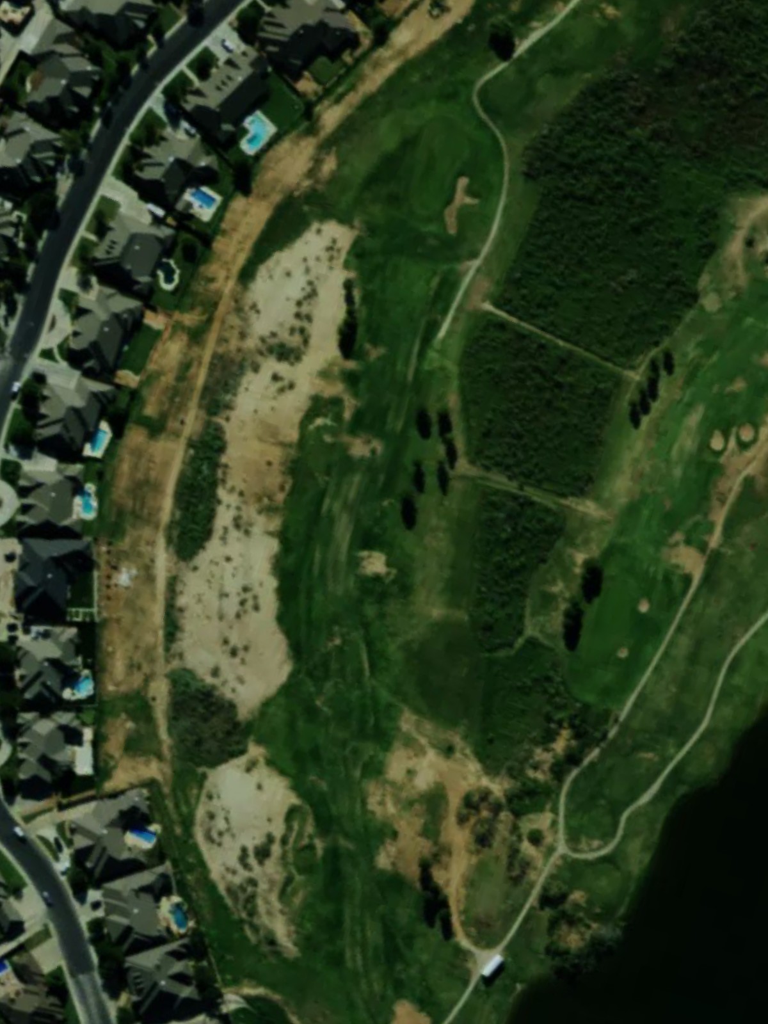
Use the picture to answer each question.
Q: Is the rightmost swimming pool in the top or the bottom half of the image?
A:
top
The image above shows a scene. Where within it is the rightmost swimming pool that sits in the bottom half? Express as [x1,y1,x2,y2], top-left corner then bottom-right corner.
[163,894,196,932]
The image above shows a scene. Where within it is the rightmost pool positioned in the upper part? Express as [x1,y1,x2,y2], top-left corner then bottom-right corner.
[239,110,277,156]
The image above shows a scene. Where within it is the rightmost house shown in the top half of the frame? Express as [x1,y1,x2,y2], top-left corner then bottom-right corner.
[250,0,364,79]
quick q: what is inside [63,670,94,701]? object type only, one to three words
swimming pool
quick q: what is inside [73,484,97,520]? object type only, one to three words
swimming pool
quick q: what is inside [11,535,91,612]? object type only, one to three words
house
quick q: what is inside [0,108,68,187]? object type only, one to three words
house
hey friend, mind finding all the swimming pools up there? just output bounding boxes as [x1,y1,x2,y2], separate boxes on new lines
[63,670,94,701]
[239,110,277,156]
[187,186,223,216]
[0,960,10,973]
[157,258,180,290]
[163,894,196,932]
[73,484,97,520]
[82,420,111,459]
[129,823,161,847]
